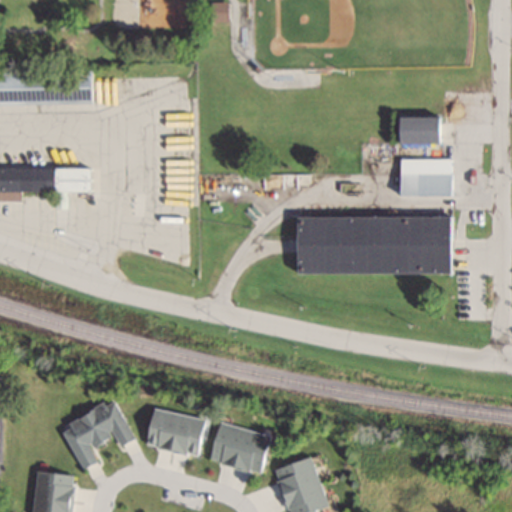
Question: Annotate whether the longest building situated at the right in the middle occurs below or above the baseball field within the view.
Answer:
below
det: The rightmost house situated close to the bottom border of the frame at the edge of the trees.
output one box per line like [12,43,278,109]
[276,457,330,512]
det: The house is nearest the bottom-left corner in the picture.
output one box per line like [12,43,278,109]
[32,472,76,512]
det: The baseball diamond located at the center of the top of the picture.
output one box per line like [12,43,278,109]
[240,0,355,74]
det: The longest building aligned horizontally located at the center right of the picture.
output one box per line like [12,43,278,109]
[296,216,454,275]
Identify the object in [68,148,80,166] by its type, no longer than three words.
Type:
vehicle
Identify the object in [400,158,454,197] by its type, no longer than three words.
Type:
building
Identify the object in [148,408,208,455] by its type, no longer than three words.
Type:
house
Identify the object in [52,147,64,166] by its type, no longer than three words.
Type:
vehicle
